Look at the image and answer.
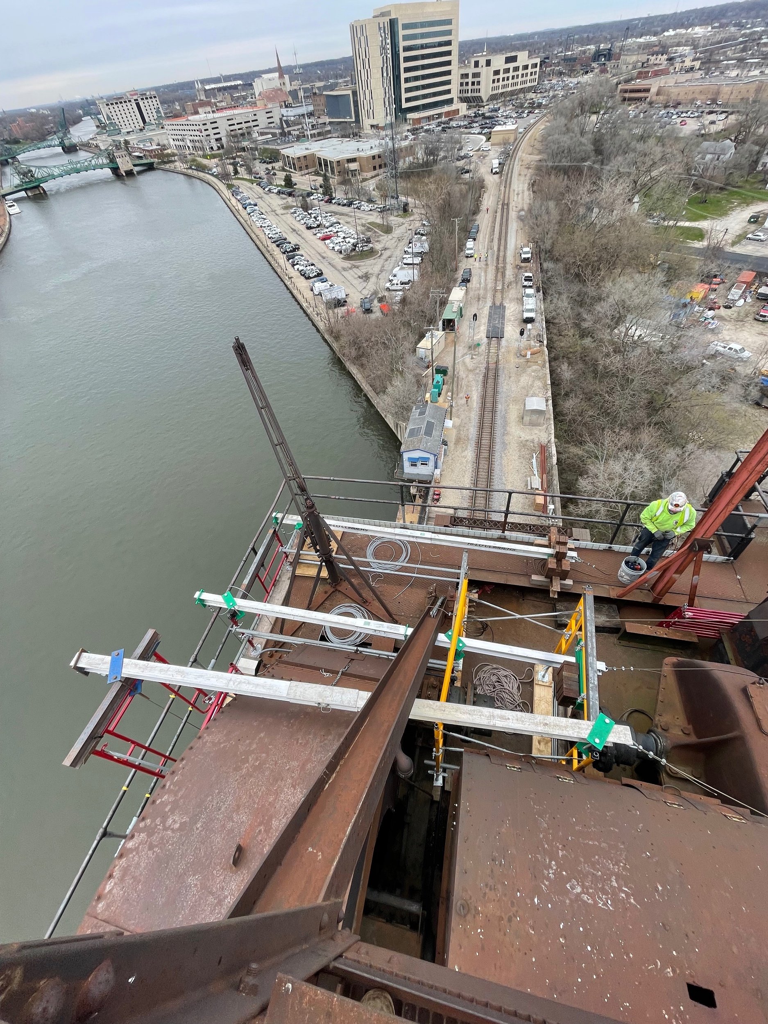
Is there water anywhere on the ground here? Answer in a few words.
Yes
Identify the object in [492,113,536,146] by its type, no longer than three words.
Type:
building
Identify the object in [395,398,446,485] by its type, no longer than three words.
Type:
house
